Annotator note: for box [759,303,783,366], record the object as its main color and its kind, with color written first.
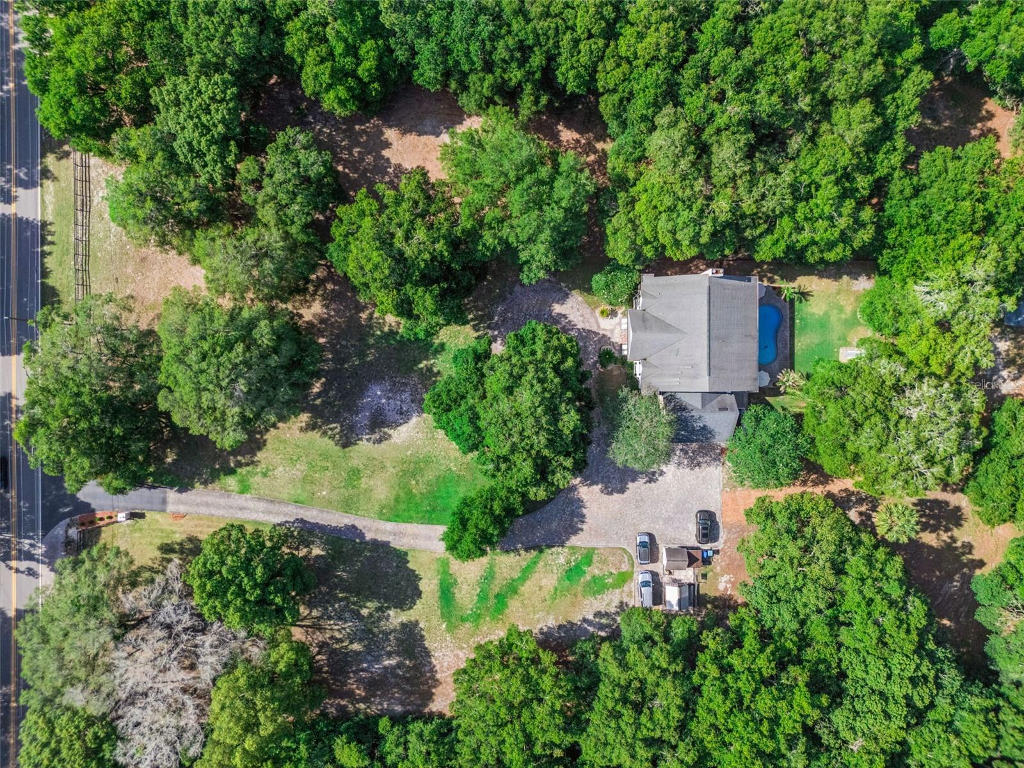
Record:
blue swimming pool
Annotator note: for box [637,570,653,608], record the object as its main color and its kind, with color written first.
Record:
white vehicle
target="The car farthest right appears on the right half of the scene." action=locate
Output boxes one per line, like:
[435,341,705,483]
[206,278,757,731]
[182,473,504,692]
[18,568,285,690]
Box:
[694,509,711,542]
